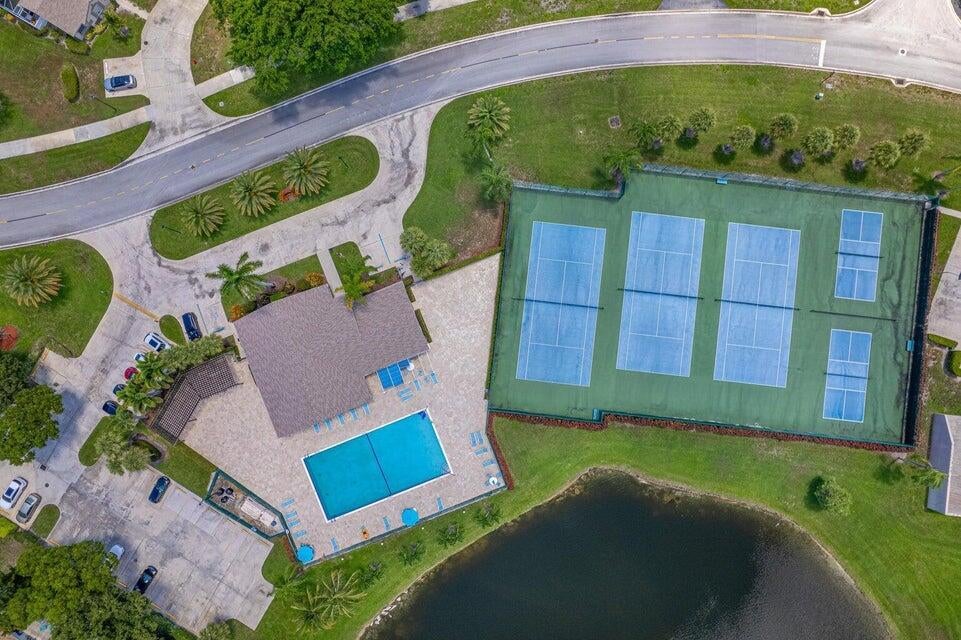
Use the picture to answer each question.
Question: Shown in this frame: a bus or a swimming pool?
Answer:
swimming pool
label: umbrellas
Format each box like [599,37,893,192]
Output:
[402,508,419,526]
[297,543,315,561]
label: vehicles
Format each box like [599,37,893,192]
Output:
[13,492,40,526]
[131,566,157,594]
[0,478,24,510]
[117,365,144,385]
[97,399,114,420]
[178,310,200,340]
[138,331,173,353]
[103,72,136,90]
[127,349,152,369]
[105,380,136,404]
[143,474,172,507]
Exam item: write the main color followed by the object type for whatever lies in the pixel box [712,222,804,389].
blue tennis court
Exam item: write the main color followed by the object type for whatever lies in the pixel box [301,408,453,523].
blue swimming pool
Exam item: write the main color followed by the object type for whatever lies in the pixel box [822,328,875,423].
blue sports court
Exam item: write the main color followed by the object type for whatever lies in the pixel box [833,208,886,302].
blue sports court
